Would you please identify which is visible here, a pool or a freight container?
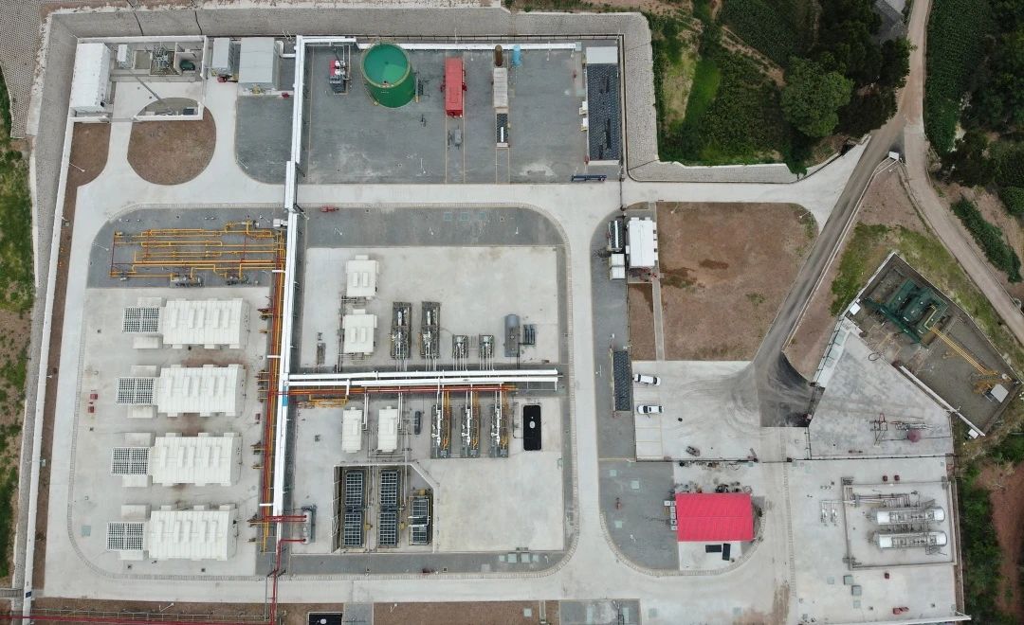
freight container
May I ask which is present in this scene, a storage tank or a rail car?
storage tank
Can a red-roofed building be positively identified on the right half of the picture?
Yes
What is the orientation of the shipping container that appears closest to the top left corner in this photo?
up and down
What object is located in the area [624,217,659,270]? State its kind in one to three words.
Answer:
building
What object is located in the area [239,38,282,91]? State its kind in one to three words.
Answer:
house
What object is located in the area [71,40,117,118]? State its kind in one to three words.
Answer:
building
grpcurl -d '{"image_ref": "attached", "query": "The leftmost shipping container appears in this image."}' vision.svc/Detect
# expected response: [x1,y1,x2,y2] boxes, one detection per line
[442,58,469,120]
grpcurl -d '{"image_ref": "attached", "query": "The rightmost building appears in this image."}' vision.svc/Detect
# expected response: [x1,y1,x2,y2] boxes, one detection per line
[983,382,1010,404]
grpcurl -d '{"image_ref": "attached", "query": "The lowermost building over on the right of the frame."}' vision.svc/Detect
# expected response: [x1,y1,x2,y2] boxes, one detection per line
[674,493,755,542]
